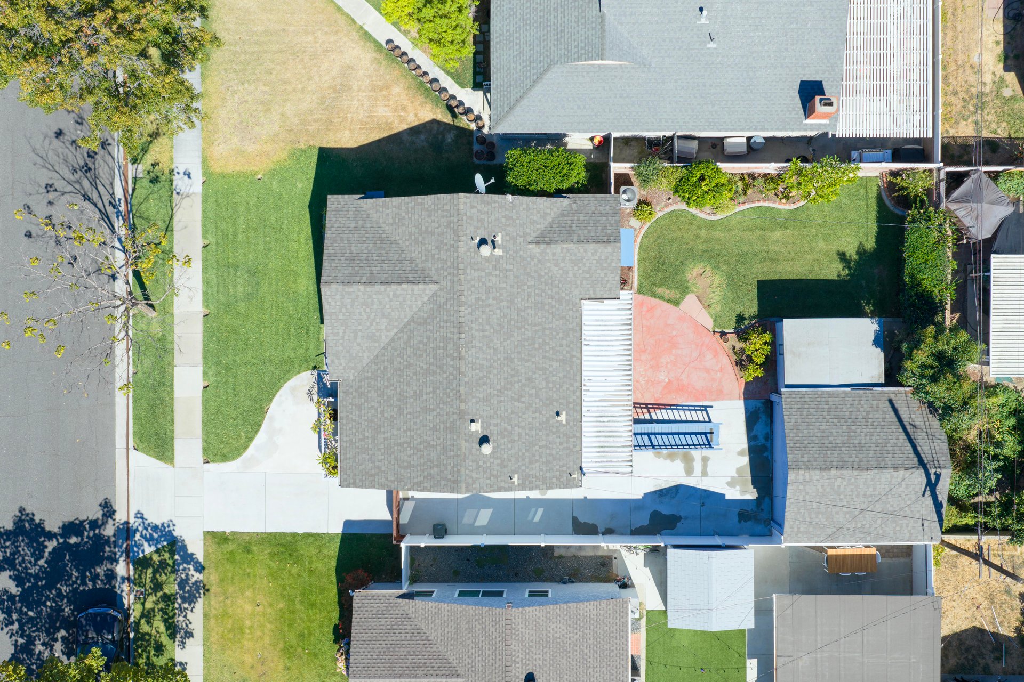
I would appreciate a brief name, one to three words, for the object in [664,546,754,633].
shed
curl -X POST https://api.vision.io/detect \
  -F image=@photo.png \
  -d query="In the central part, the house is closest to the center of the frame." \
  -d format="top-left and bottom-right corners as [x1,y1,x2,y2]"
[319,192,623,494]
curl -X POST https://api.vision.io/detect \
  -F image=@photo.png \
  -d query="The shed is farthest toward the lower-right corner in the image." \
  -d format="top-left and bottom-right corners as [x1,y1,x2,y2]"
[771,594,941,682]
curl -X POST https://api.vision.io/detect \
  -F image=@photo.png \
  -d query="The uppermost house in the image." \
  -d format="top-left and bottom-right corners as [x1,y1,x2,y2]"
[489,0,851,150]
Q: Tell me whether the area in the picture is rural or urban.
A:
urban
